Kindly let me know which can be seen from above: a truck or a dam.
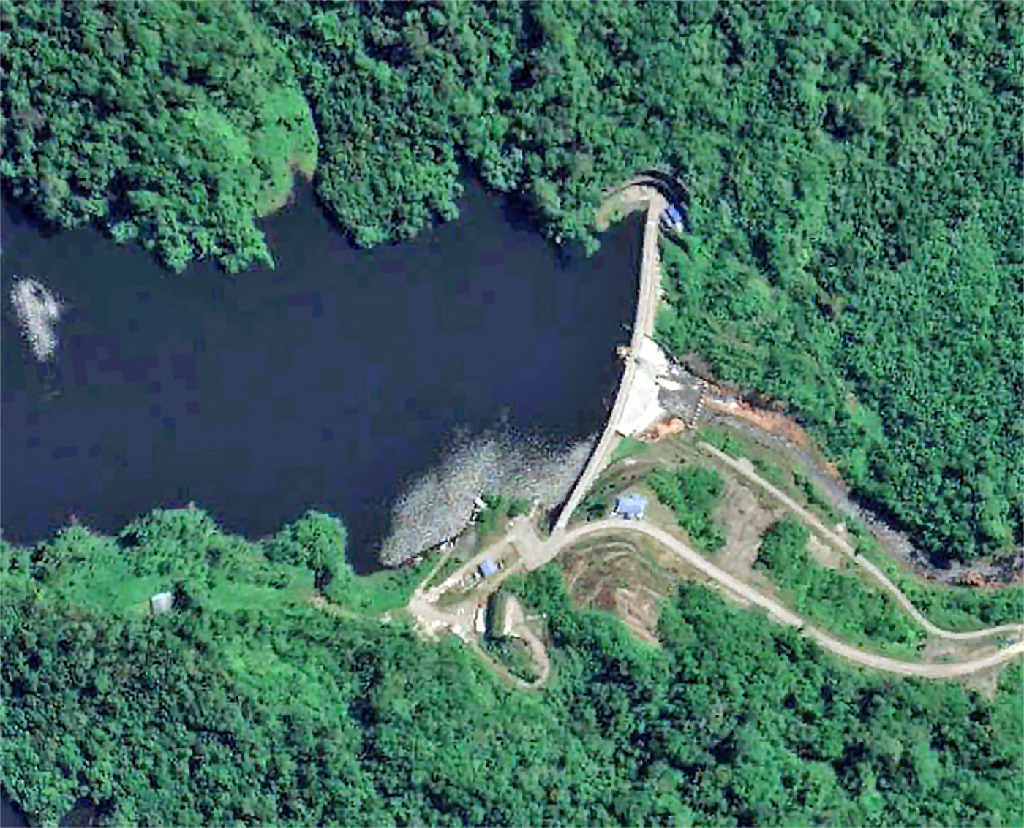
dam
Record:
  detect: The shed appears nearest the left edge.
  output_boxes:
[152,592,173,612]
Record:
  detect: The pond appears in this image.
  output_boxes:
[0,173,647,580]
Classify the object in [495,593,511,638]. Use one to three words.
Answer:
shed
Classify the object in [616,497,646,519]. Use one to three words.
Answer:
house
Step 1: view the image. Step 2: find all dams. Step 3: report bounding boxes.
[553,202,721,538]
